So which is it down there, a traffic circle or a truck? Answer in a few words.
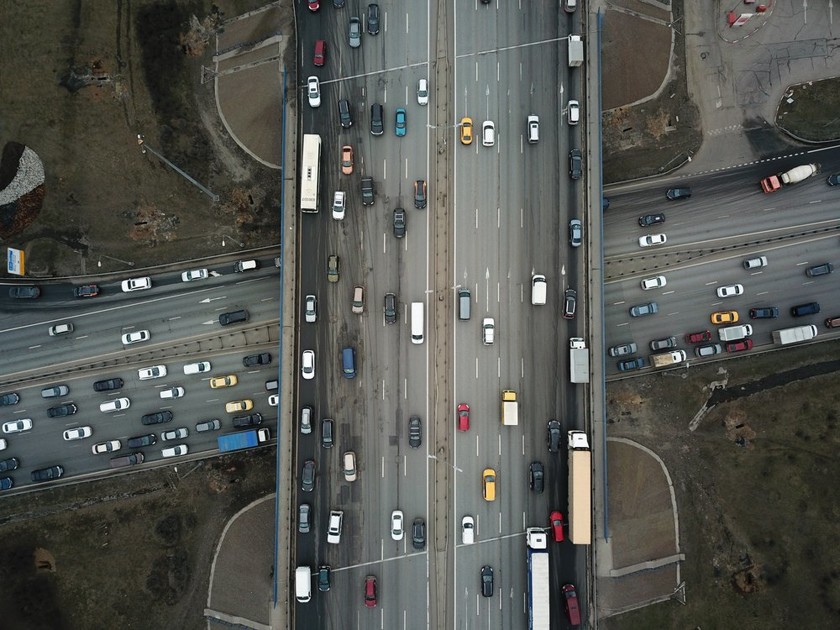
truck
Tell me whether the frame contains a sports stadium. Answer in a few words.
No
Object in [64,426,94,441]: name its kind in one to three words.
car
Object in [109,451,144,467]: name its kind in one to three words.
vehicle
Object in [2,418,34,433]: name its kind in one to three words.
car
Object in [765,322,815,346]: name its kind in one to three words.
truck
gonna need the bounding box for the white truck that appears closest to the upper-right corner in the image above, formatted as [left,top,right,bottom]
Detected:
[760,162,825,194]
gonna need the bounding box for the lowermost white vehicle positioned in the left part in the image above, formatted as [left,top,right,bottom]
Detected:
[295,566,311,603]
